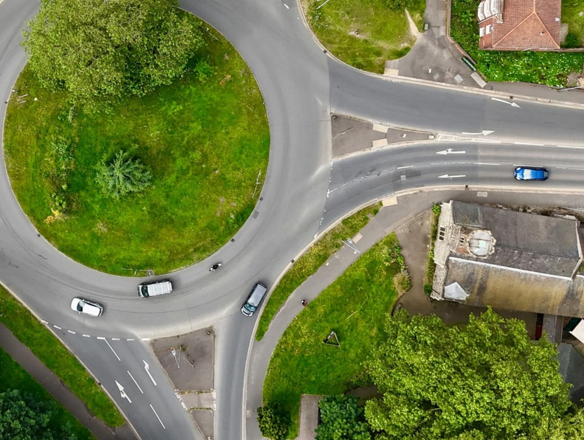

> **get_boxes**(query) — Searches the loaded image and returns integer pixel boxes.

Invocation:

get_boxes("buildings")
[428,199,584,316]
[538,339,584,408]
[474,0,562,53]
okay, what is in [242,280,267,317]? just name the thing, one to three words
vehicle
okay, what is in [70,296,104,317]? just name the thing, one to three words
car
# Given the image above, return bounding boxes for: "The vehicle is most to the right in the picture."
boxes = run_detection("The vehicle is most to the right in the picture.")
[513,165,549,182]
